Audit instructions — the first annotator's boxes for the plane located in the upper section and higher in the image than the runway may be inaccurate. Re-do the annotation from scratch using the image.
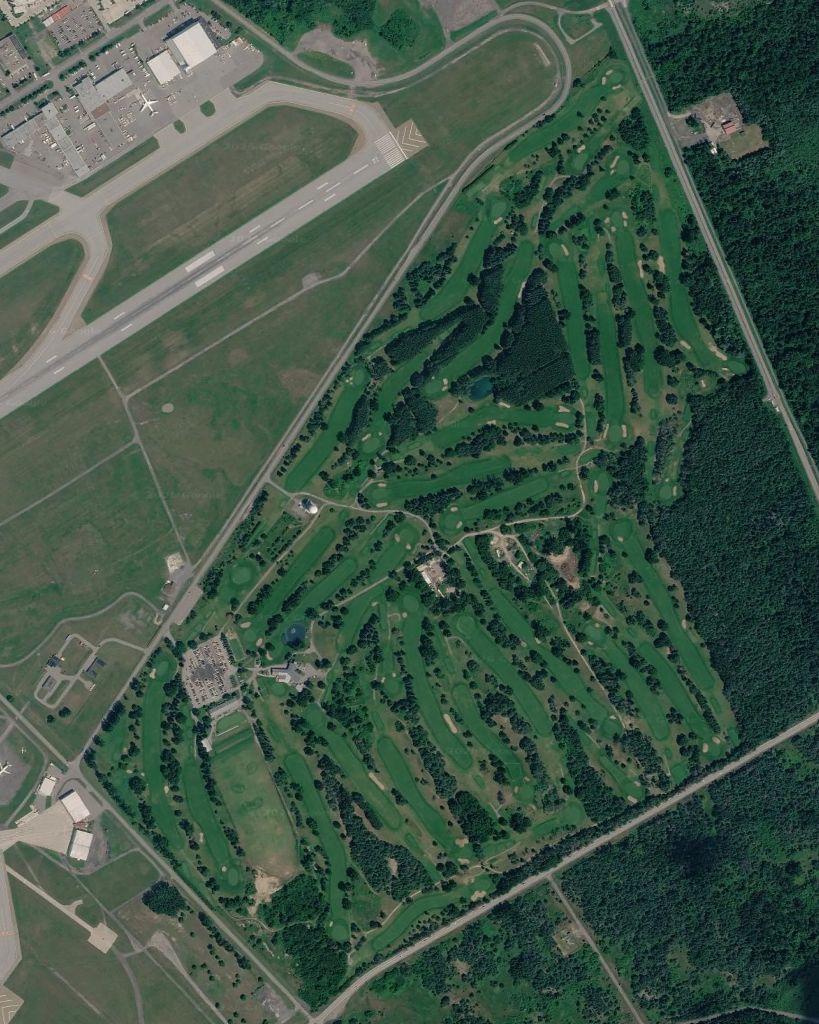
[141,94,157,113]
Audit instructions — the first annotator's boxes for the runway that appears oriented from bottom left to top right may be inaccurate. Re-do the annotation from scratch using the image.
[0,132,407,418]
